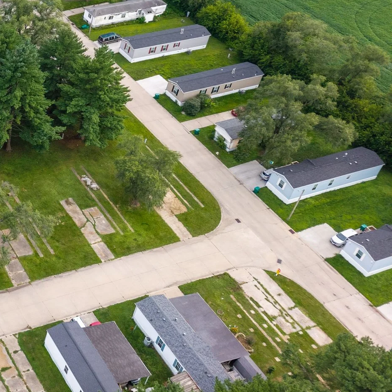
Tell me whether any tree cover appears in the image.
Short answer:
Yes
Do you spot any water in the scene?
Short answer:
No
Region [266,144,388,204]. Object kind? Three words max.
house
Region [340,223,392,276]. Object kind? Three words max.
house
